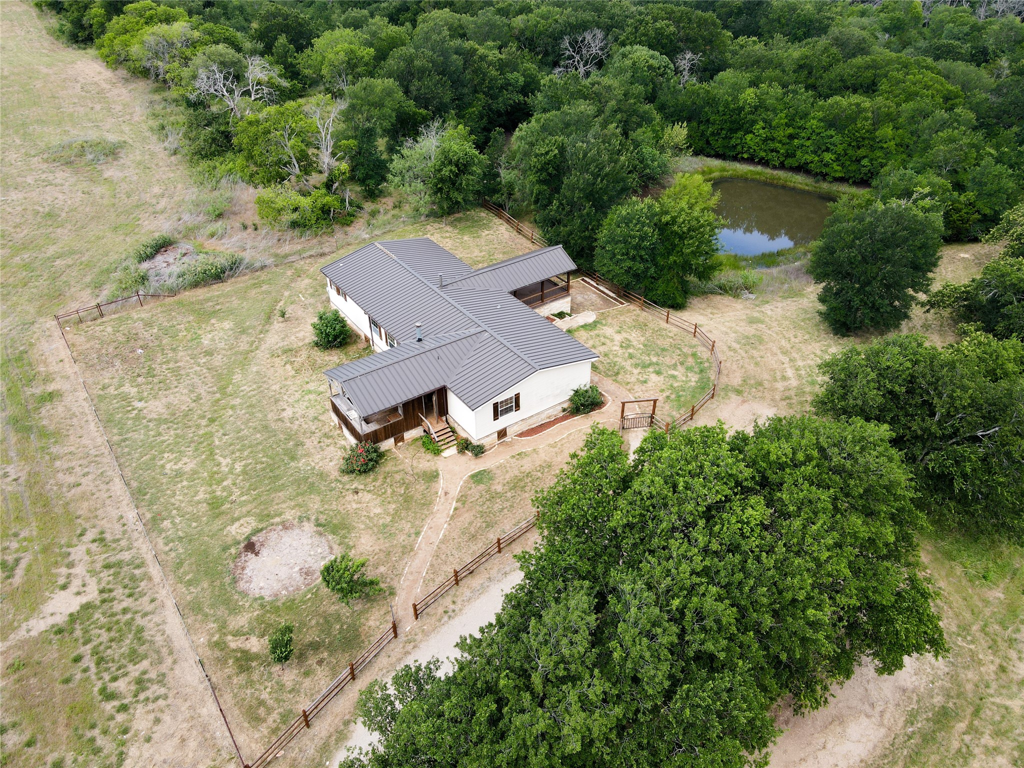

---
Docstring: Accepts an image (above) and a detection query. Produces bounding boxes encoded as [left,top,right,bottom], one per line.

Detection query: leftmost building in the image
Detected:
[319,238,601,454]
